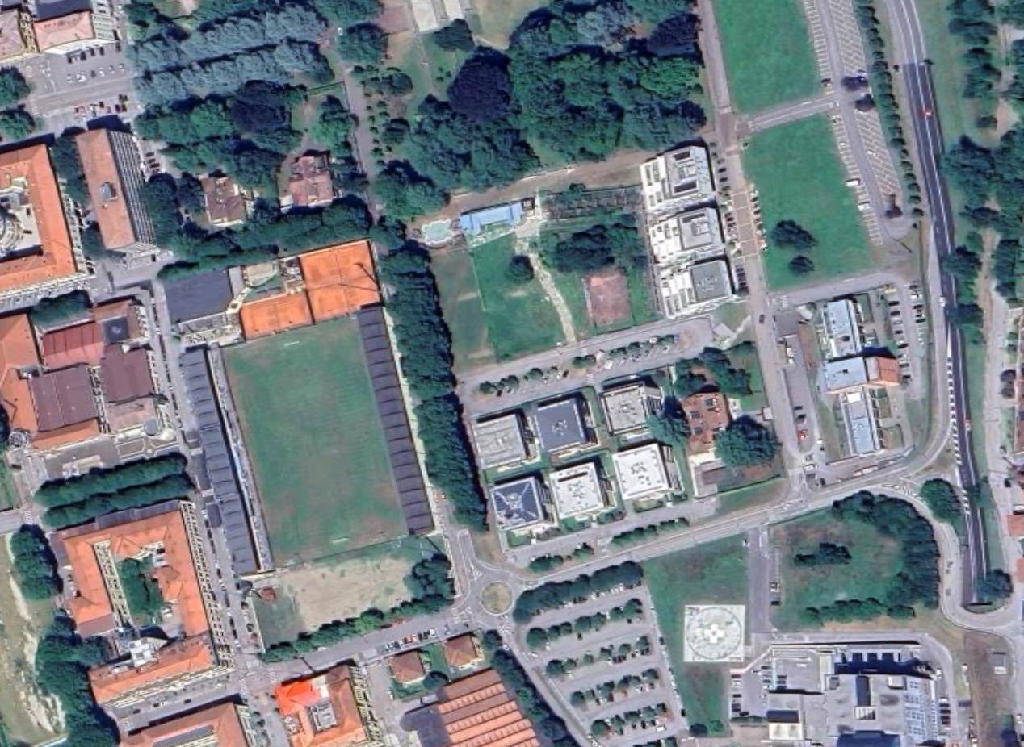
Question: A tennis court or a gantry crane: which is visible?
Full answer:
Of the two, only a tennis court appears.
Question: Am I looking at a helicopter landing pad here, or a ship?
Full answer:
Visible in the photo is a helicopter landing pad.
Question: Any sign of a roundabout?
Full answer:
Yes, the picture does show a roundabout.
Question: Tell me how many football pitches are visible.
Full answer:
There is 1 football pitch in the image.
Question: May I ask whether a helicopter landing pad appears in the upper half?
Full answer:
No, looking in the upper half, there is no helicopter landing pad.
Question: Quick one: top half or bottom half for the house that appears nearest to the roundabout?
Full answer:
The bottom half of the photo is where the house that appears nearest to the roundabout is.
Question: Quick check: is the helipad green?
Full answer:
No, the color of the helipad is white.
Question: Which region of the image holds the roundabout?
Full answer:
The roundabout sits in the bottom section of the image.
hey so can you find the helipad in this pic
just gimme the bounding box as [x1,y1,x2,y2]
[684,605,745,663]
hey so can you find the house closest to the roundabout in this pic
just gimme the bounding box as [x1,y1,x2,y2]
[442,631,484,668]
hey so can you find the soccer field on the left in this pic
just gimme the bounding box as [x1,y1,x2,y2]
[222,313,407,569]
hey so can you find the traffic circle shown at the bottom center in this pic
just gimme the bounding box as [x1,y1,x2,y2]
[462,560,526,629]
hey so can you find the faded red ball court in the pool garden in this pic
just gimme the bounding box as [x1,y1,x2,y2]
[584,273,633,327]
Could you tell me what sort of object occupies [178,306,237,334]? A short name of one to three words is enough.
building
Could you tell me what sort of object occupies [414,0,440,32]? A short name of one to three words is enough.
sports court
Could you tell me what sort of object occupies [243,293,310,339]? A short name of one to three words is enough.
tennis court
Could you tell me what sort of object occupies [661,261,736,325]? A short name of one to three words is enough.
house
